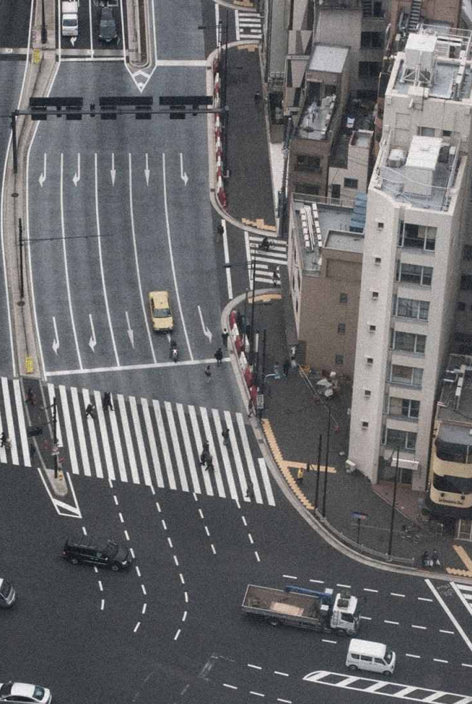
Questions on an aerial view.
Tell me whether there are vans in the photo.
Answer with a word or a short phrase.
Yes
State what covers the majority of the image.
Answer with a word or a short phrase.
paved ground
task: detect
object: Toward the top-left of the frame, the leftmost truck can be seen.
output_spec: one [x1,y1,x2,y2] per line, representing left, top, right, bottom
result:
[59,0,81,30]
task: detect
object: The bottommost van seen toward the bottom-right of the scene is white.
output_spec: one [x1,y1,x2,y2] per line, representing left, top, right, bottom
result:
[344,637,397,675]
